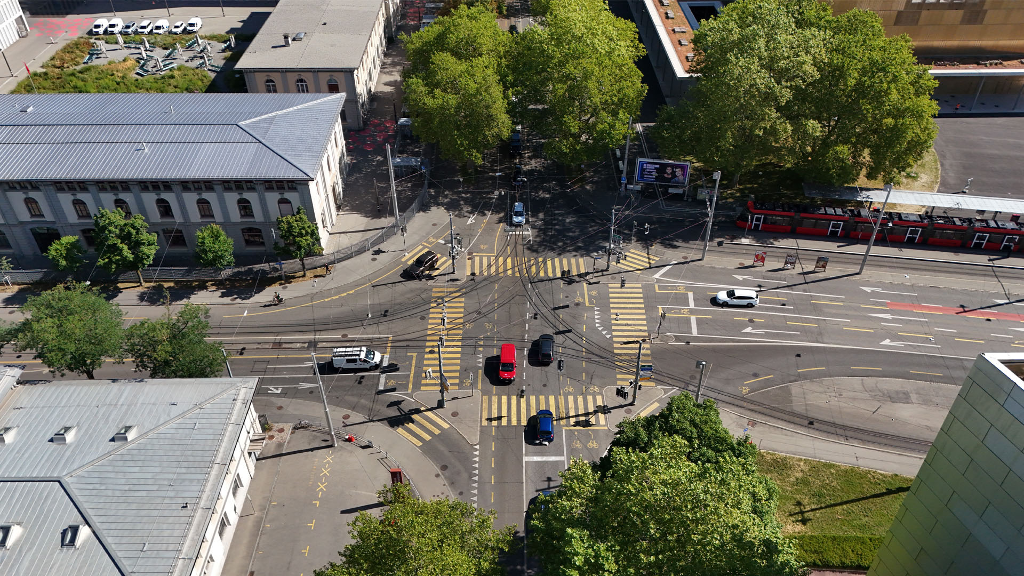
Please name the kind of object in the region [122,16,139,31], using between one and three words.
car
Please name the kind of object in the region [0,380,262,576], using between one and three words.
house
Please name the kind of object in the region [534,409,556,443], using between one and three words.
car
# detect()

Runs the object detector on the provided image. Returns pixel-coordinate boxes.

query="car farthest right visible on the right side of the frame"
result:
[717,290,761,310]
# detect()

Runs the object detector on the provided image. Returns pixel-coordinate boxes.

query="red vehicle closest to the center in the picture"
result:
[497,339,519,383]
